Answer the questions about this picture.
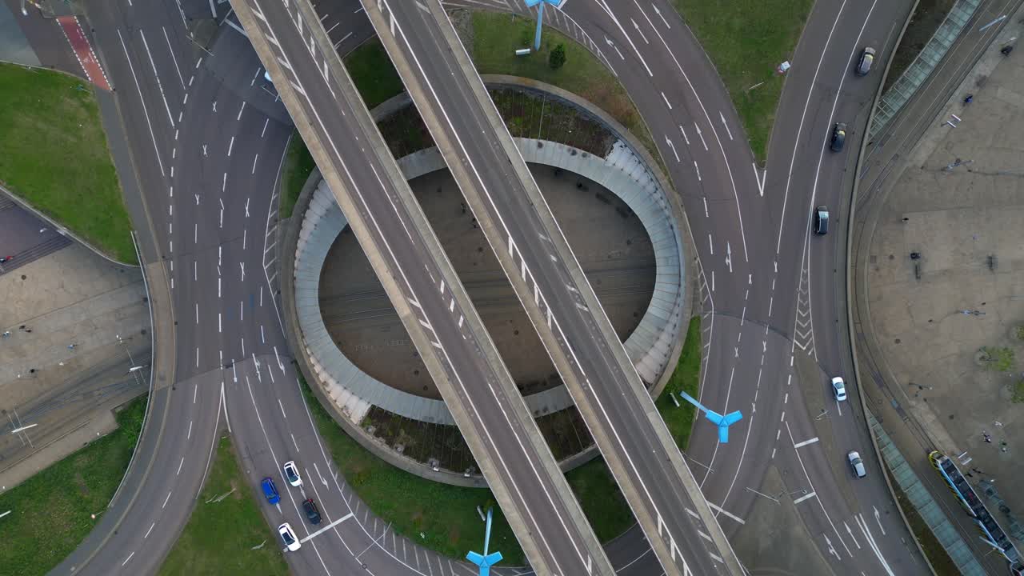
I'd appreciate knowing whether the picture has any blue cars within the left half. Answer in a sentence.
Yes, the scene does show a blue car within the left half.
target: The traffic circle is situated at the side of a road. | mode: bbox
[128,0,896,576]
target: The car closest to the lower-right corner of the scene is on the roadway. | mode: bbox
[847,451,867,479]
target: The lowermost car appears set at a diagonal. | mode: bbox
[277,523,300,551]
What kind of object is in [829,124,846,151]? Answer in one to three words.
car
